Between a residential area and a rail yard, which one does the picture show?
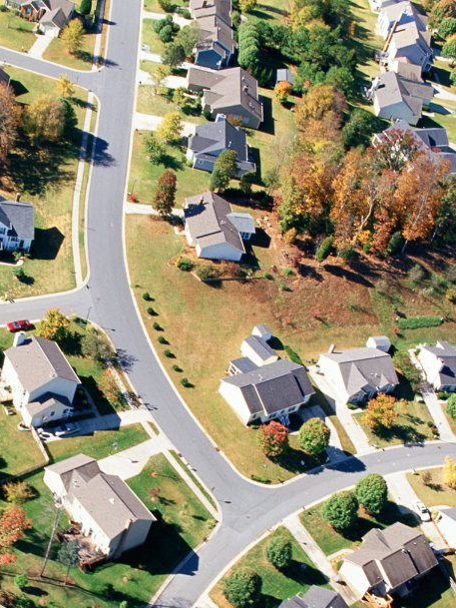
residential area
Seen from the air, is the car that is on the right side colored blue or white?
white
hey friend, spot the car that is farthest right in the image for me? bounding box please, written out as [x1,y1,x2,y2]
[414,498,434,519]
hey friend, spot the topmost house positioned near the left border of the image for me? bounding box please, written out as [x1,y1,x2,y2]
[5,0,72,39]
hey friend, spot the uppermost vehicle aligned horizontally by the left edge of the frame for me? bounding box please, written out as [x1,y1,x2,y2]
[6,316,34,330]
